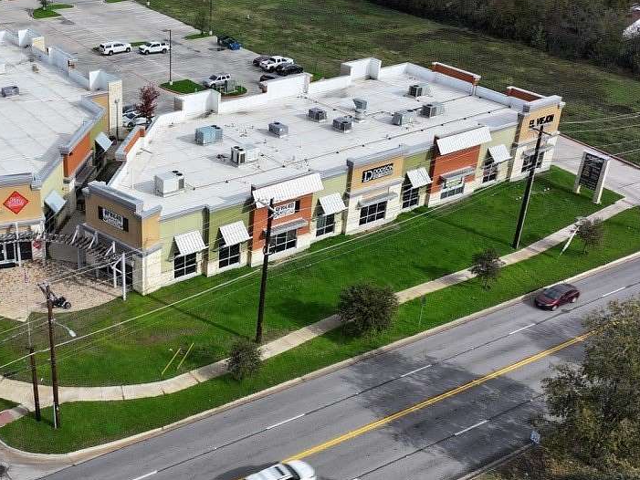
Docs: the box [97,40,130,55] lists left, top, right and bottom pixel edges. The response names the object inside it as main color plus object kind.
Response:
white car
